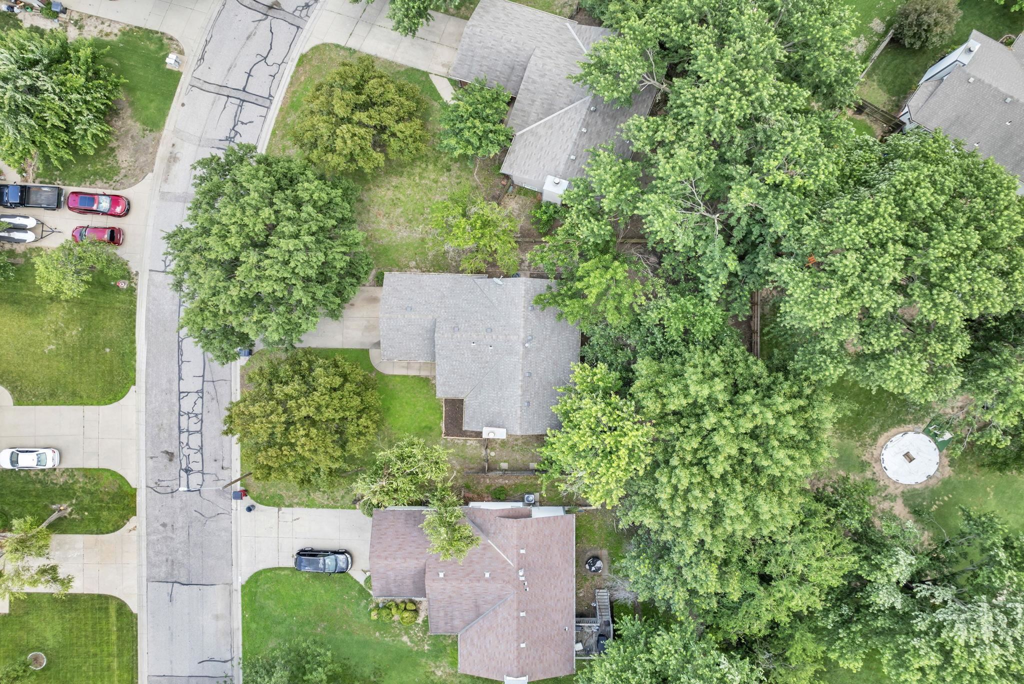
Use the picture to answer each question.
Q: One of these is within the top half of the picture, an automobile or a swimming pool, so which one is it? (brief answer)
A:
automobile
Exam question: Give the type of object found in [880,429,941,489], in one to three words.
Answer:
swimming pool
